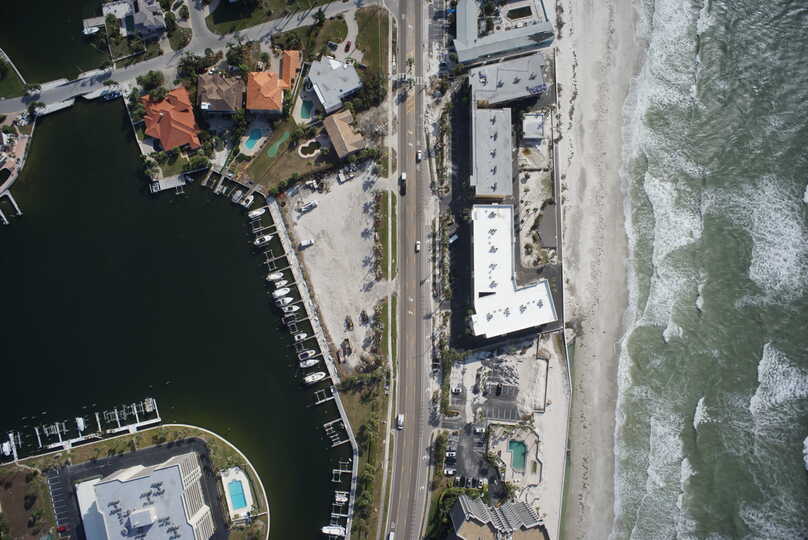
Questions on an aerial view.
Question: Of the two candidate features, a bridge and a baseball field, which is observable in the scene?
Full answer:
This aerial view contains a bridge.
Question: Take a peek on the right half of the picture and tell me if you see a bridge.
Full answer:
No, I can find no bridge on the right half of the picture.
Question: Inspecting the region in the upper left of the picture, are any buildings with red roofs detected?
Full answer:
Yes, a building with a red roof is visible in the upper left of the picture.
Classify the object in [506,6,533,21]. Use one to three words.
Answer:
swimming pool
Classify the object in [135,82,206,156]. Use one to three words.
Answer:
house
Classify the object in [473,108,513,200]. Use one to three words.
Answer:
building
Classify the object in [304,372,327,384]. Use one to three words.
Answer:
boat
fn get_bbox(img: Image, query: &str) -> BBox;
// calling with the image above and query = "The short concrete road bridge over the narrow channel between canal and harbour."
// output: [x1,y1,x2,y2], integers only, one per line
[39,68,112,112]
